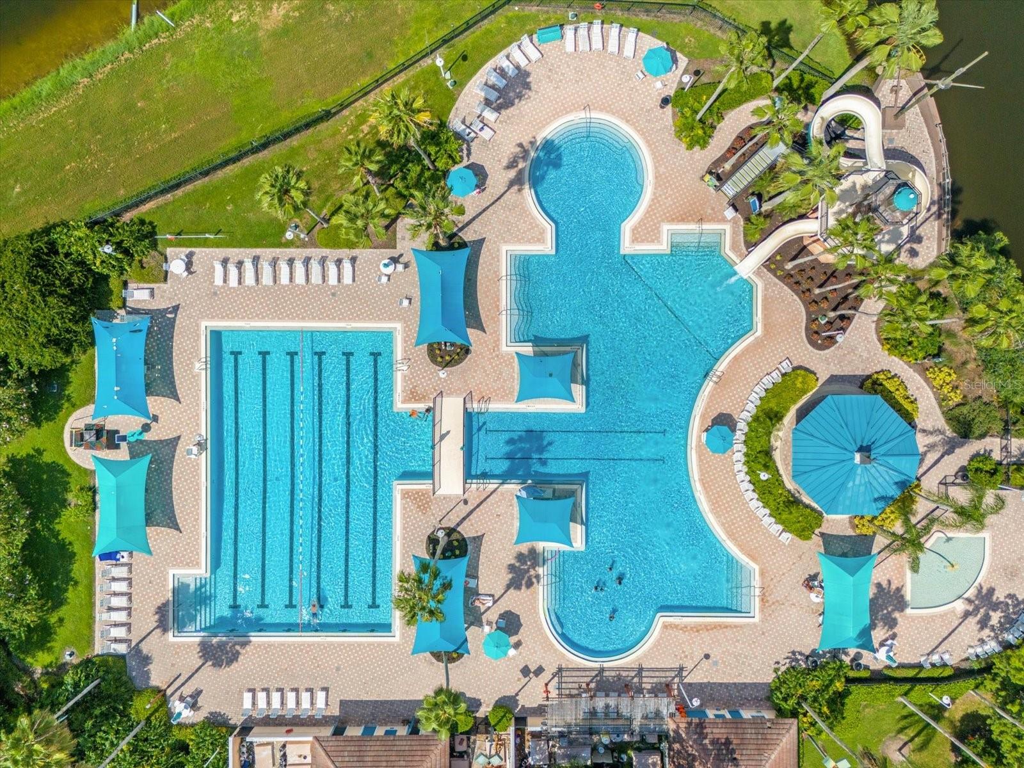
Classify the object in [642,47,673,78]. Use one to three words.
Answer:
umbrella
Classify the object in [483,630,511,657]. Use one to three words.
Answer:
umbrella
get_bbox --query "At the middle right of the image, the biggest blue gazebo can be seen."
[784,394,921,516]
